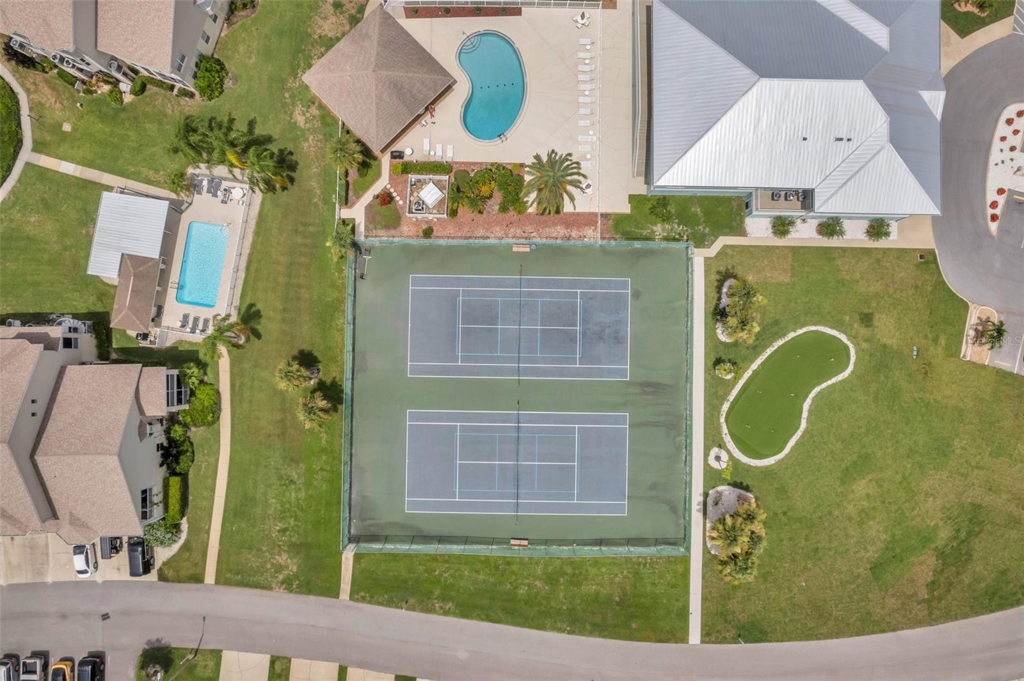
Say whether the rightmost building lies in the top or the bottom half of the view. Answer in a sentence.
The rightmost building is in the top half of the image.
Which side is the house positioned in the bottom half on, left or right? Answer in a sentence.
You can find the house positioned in the bottom half on the left side of the picture.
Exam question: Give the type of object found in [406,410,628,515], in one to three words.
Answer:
tennis court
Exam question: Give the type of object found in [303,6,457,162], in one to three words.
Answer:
building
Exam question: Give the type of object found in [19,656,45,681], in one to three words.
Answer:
truck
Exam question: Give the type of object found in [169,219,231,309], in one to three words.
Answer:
swimming pool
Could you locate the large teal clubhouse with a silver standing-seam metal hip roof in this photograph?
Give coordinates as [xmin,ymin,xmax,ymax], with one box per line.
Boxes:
[631,0,952,220]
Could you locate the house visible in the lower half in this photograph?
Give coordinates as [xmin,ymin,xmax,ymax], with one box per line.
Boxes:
[0,318,188,544]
